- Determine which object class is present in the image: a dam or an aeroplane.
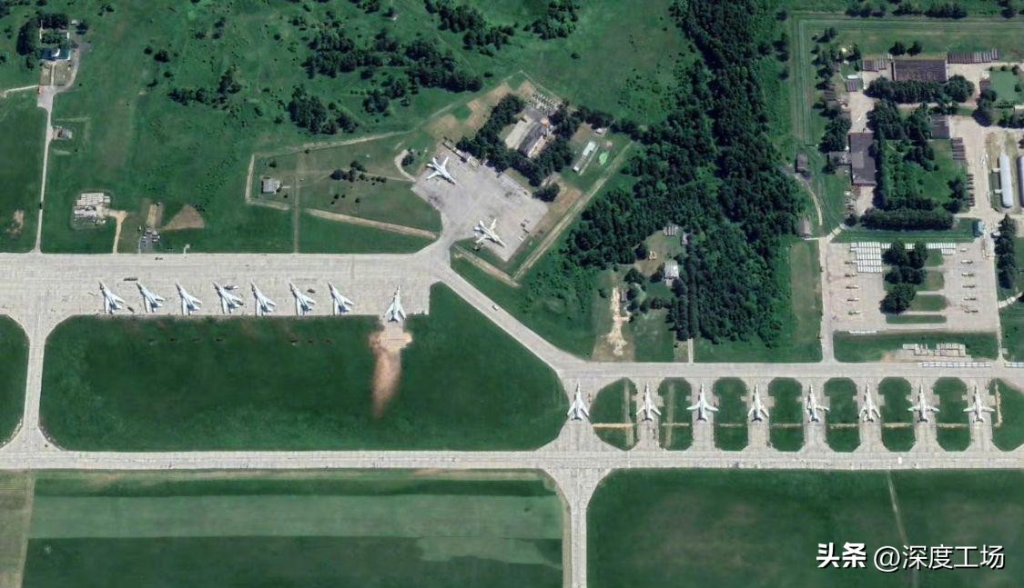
aeroplane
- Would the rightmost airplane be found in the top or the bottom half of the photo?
bottom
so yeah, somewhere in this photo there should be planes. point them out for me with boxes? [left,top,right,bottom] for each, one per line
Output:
[963,386,994,423]
[567,383,589,421]
[803,384,828,422]
[426,156,458,185]
[289,280,315,315]
[688,382,718,420]
[328,282,354,317]
[473,219,507,248]
[383,284,407,323]
[213,281,240,316]
[251,279,277,314]
[908,385,939,422]
[99,280,125,315]
[136,281,163,316]
[748,384,769,421]
[637,383,661,421]
[859,383,880,421]
[176,282,202,316]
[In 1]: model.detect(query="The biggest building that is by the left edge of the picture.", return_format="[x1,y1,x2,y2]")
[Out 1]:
[40,47,70,59]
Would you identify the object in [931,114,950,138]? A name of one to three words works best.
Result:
building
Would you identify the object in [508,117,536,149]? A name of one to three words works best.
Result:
building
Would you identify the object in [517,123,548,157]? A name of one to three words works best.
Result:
hangar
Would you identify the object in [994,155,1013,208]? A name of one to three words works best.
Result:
hangar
